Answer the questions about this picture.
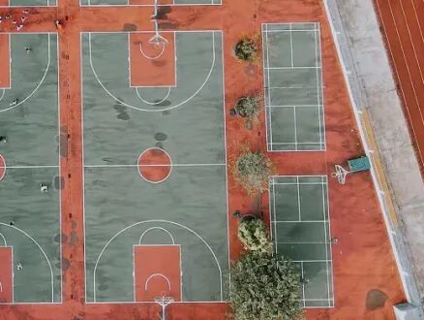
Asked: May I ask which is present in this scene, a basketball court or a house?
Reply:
basketball court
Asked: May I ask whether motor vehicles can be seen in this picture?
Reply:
No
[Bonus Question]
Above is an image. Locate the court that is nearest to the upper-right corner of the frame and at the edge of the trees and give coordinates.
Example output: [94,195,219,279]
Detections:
[262,22,327,152]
